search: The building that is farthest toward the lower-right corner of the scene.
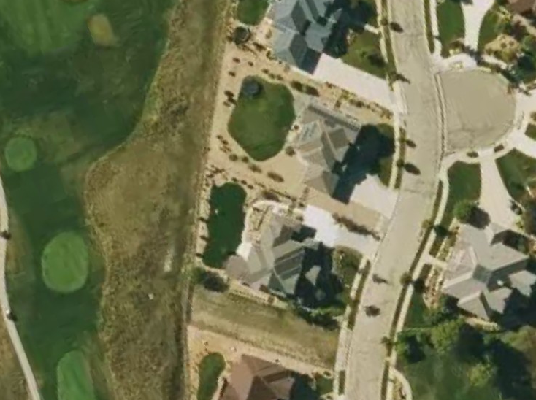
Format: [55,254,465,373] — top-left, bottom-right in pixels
[444,218,536,327]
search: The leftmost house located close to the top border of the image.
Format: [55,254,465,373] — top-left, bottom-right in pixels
[263,0,346,76]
